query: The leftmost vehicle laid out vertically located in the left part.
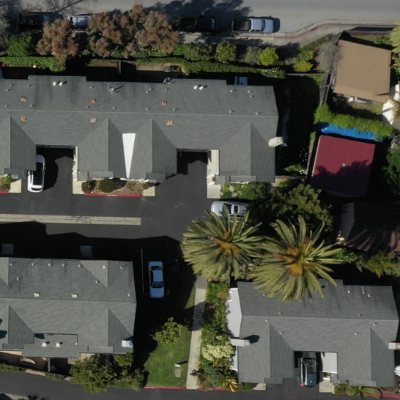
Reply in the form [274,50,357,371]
[27,154,47,193]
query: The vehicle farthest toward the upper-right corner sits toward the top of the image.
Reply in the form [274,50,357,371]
[230,14,276,35]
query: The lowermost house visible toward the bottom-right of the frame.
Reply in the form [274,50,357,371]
[211,278,400,387]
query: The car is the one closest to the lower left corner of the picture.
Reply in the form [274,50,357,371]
[146,260,166,299]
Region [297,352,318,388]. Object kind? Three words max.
car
